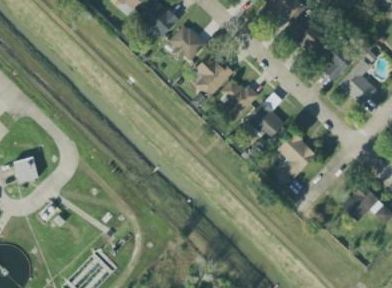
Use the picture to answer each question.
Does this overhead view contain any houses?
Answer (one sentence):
Yes, the frame does contain a house.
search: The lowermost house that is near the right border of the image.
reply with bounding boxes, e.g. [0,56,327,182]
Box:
[344,186,392,224]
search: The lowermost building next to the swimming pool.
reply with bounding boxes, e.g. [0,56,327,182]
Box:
[350,72,380,102]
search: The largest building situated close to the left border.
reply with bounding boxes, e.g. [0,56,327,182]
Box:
[12,156,38,185]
